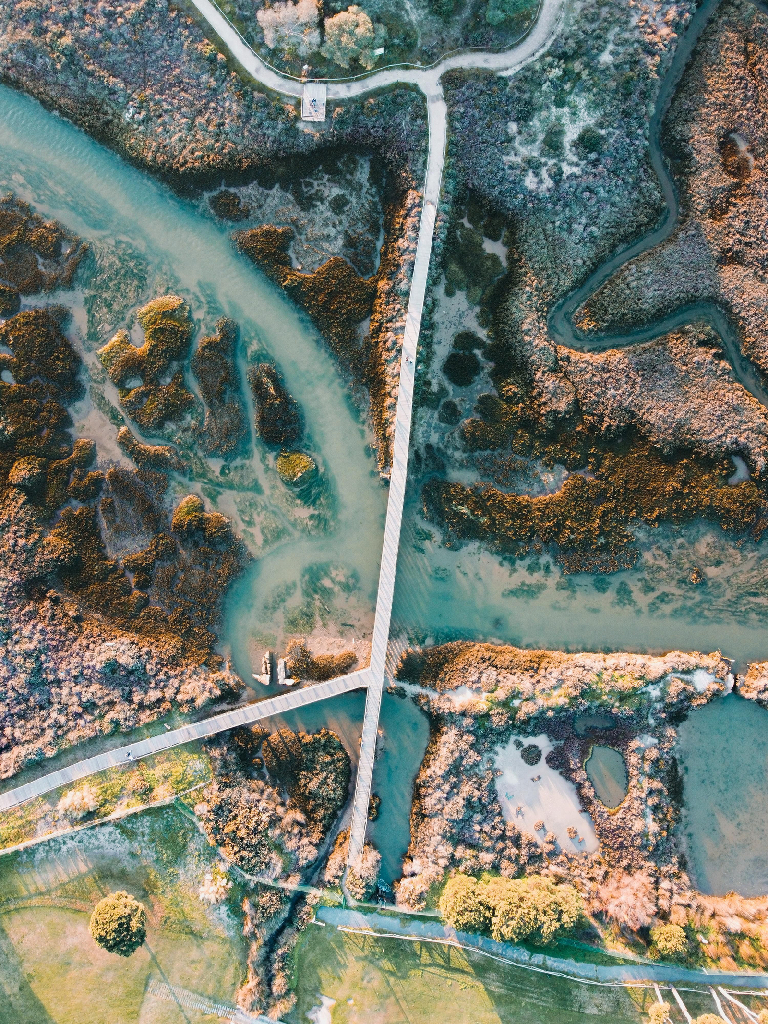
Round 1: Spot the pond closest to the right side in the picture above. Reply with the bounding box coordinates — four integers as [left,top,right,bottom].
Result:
[677,695,768,898]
